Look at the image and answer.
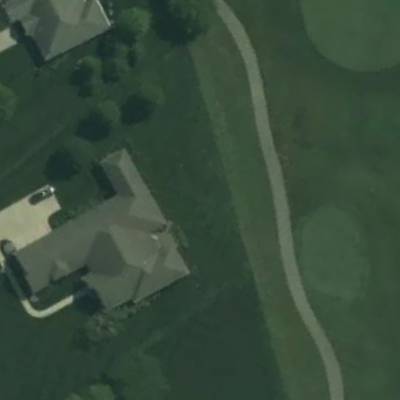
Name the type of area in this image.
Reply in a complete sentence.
What you see here is a golf course.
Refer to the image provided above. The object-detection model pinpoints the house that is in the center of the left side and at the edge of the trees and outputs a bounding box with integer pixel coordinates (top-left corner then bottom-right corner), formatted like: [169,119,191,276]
[15,150,190,313]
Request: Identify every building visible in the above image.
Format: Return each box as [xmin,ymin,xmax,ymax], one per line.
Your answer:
[15,150,190,313]
[0,0,110,60]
